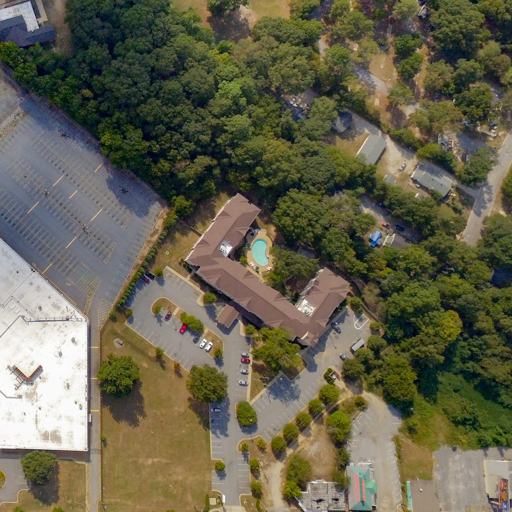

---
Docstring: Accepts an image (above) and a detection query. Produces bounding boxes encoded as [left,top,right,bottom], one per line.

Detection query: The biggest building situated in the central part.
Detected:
[181,198,344,349]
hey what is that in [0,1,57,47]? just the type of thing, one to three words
building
